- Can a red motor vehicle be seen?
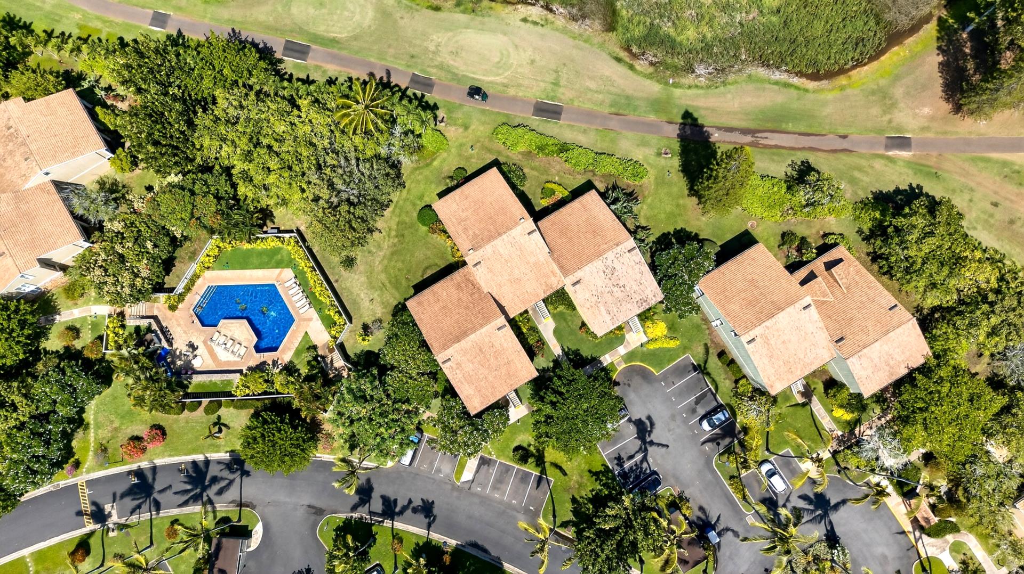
No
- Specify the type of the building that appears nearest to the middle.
house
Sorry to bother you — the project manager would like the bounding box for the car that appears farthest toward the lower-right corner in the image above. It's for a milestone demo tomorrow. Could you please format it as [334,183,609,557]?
[753,453,789,499]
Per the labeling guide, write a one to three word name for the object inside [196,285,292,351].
swimming pool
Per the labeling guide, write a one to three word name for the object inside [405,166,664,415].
house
